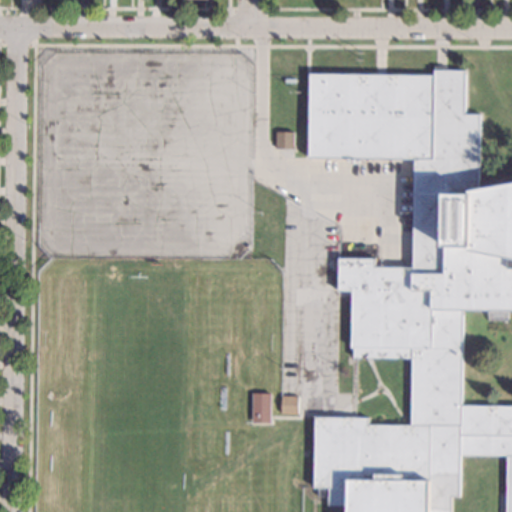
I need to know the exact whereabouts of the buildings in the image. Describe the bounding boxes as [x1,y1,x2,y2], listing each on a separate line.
[281,395,299,414]
[277,132,294,148]
[253,393,272,422]
[308,69,512,512]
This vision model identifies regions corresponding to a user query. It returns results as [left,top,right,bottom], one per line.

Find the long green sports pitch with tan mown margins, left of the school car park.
[38,258,345,512]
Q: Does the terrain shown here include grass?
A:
Yes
